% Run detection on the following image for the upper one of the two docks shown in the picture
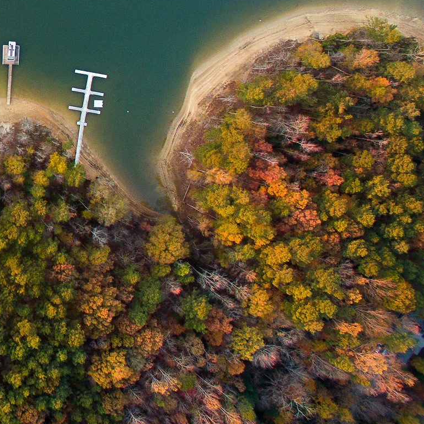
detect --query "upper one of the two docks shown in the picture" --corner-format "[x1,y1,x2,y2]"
[2,45,20,105]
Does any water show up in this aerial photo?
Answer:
Yes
